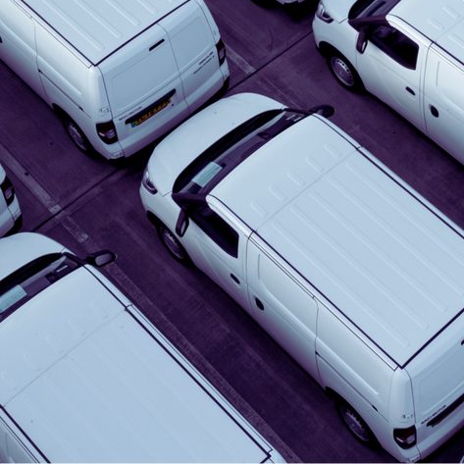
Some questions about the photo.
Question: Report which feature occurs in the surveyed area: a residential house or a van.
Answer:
van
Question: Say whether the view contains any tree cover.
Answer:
No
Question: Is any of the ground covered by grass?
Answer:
No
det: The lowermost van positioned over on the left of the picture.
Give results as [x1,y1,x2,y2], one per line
[0,234,286,464]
